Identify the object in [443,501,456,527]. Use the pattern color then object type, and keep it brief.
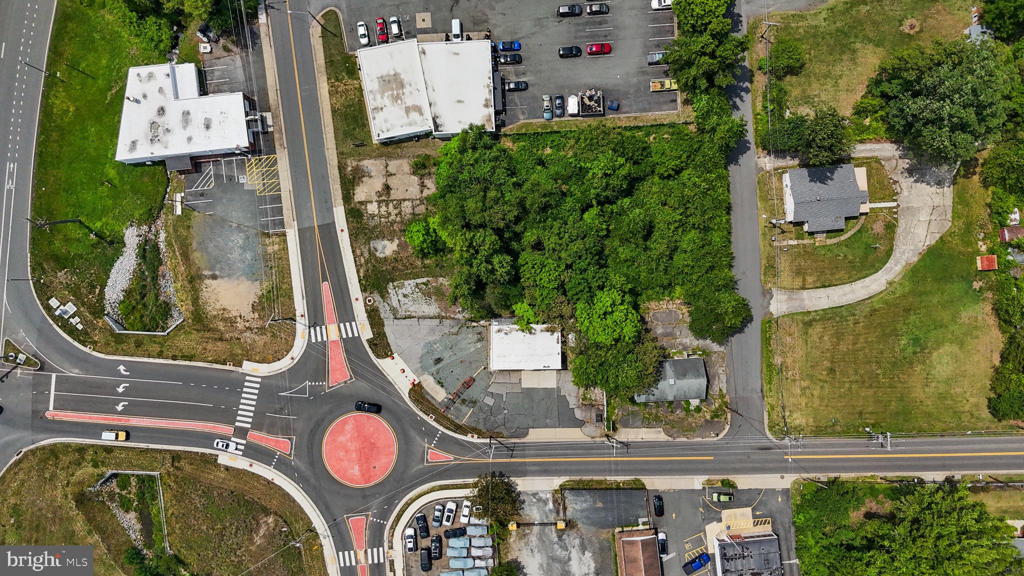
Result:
white vehicle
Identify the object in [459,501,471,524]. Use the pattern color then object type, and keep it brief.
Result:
white vehicle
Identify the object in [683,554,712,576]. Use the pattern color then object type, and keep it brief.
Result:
blue truck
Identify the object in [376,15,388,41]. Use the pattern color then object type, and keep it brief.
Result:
red vehicle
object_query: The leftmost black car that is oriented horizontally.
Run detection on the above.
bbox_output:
[354,401,381,414]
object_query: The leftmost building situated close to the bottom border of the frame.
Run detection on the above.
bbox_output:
[613,524,660,576]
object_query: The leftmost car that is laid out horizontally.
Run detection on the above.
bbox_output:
[99,431,125,443]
